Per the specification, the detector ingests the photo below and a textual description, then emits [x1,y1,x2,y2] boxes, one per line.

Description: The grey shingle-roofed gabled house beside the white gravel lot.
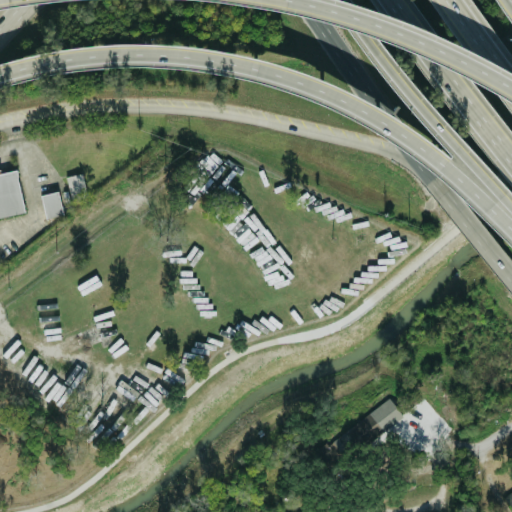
[370,399,402,432]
